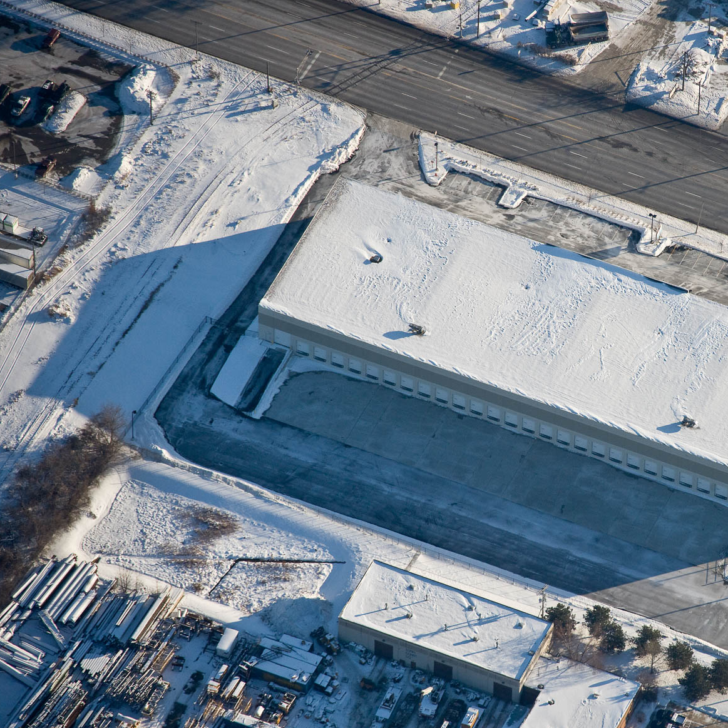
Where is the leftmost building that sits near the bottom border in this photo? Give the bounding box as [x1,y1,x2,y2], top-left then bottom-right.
[338,540,565,700]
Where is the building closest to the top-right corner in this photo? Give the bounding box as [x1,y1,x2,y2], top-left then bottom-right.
[257,177,728,503]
